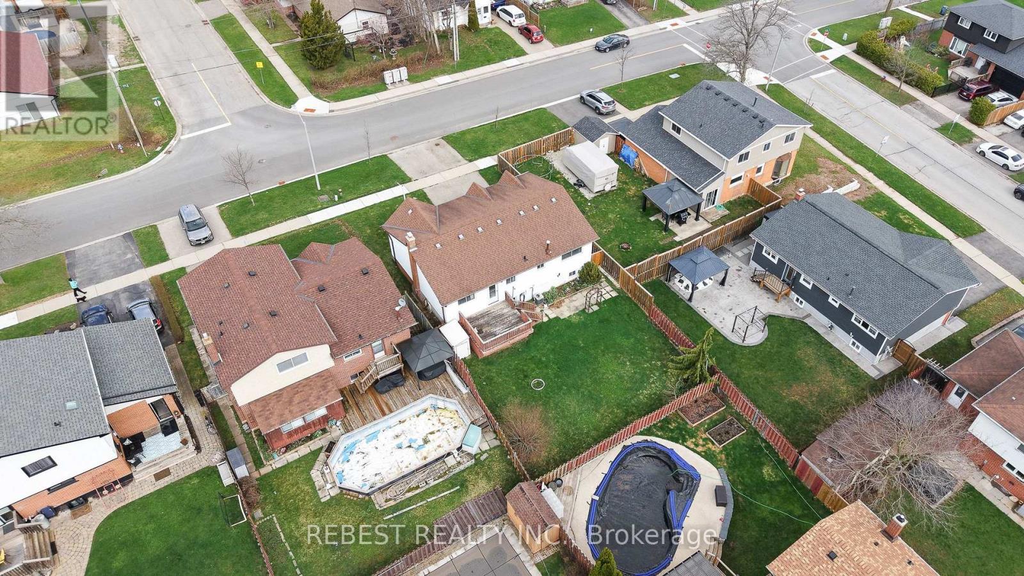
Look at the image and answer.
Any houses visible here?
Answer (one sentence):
Yes, the photo shows a house.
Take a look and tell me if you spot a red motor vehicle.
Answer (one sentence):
Yes, the photo shows a red motor vehicle.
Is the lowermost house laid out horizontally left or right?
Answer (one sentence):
The lowermost house laid out horizontally appears in the right half of the scene.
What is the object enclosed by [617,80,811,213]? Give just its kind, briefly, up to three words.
house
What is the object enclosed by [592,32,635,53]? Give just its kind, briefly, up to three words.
car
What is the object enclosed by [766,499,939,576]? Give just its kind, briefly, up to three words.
house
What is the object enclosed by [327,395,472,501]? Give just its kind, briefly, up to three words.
swimming pool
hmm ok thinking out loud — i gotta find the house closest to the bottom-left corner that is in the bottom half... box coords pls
[0,317,186,519]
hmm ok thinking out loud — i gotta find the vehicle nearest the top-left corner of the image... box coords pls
[172,202,213,248]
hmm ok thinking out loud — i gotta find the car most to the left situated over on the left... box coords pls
[74,293,118,328]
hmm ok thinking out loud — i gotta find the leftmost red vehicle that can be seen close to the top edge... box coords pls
[517,22,546,42]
